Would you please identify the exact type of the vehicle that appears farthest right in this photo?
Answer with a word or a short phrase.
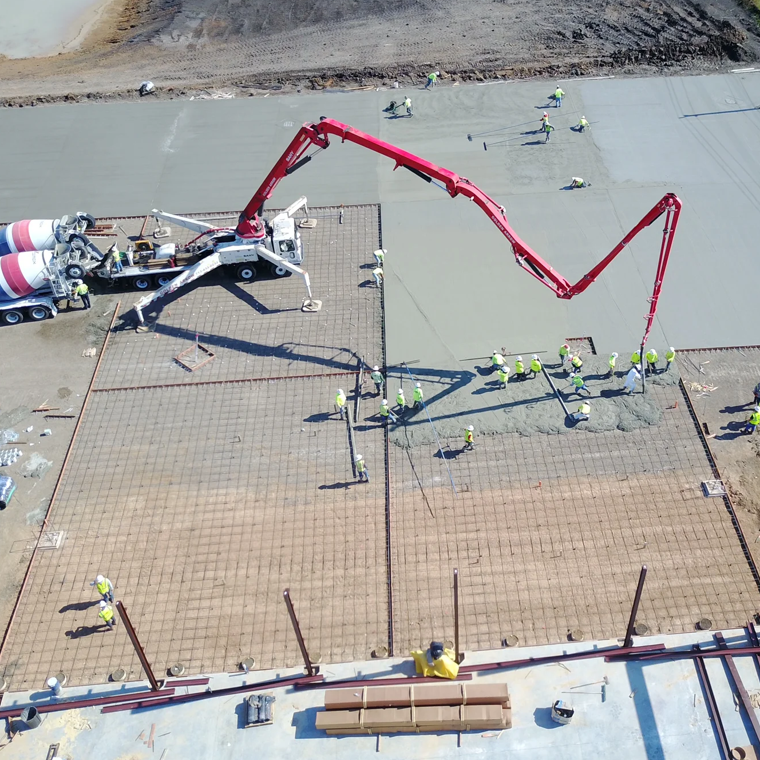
truck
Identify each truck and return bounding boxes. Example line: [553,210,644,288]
[0,208,118,276]
[93,113,684,391]
[0,236,113,324]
